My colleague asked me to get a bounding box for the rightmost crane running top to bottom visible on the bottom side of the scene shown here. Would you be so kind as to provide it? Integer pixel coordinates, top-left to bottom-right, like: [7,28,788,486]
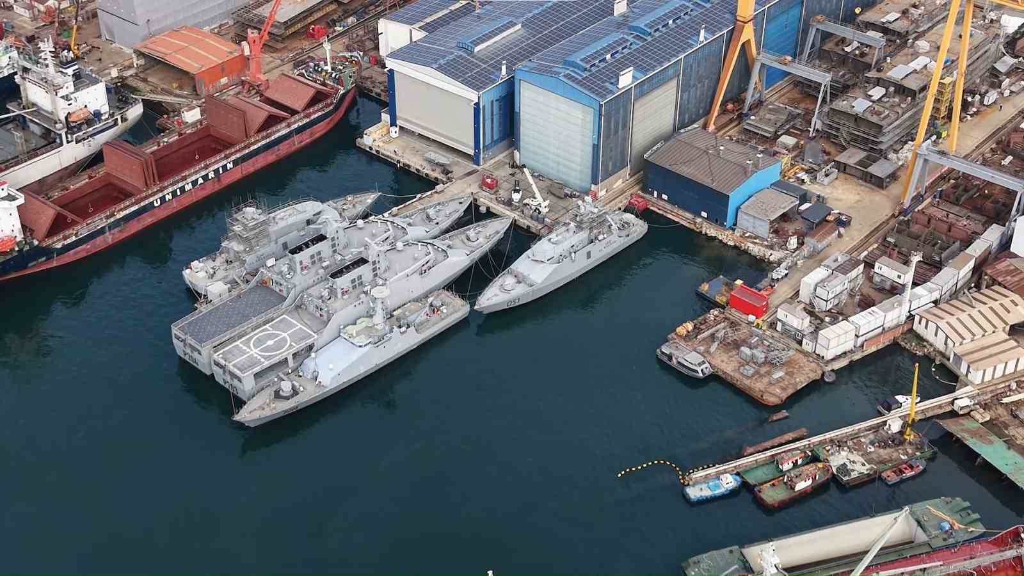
[897,361,929,447]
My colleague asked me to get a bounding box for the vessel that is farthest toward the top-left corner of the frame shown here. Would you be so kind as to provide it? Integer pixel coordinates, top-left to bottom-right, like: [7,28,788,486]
[0,48,29,102]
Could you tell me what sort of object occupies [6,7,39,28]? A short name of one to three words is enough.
house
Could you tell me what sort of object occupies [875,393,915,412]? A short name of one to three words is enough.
boat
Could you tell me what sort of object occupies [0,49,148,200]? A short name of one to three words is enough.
ship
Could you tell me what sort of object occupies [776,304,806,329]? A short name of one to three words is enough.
building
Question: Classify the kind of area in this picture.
port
